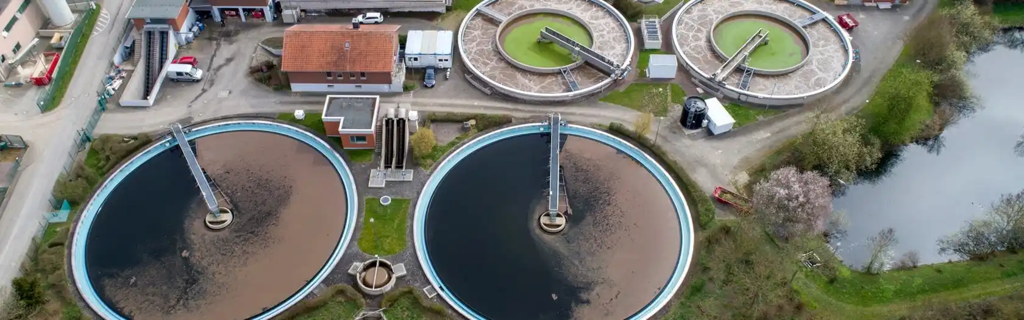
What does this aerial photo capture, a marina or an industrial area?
industrial area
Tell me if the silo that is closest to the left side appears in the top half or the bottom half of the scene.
top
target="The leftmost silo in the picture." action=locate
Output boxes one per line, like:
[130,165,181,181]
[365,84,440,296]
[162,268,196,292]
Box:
[35,0,81,29]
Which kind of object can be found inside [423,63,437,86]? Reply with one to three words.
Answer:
car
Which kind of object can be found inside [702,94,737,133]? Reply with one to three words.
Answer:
shed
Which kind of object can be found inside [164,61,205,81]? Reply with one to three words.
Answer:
vehicle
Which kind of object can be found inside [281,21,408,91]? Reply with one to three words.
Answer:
house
